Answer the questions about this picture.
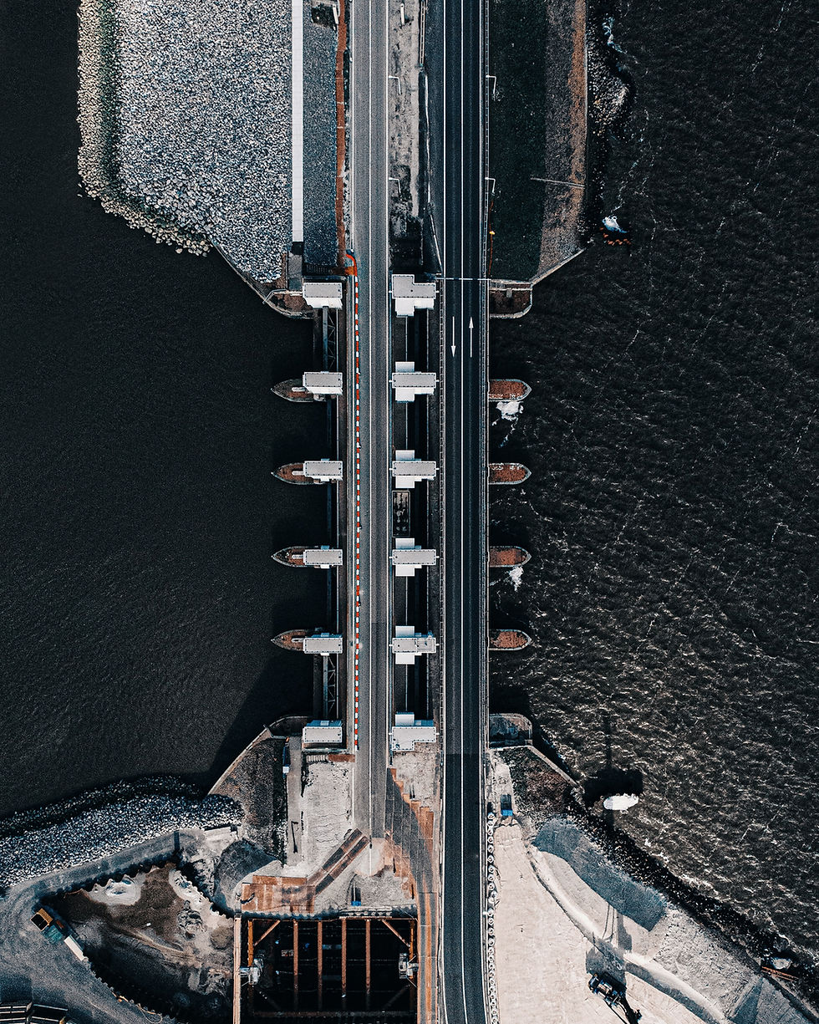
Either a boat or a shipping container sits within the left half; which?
shipping container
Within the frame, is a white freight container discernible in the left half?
Yes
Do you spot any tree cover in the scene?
No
